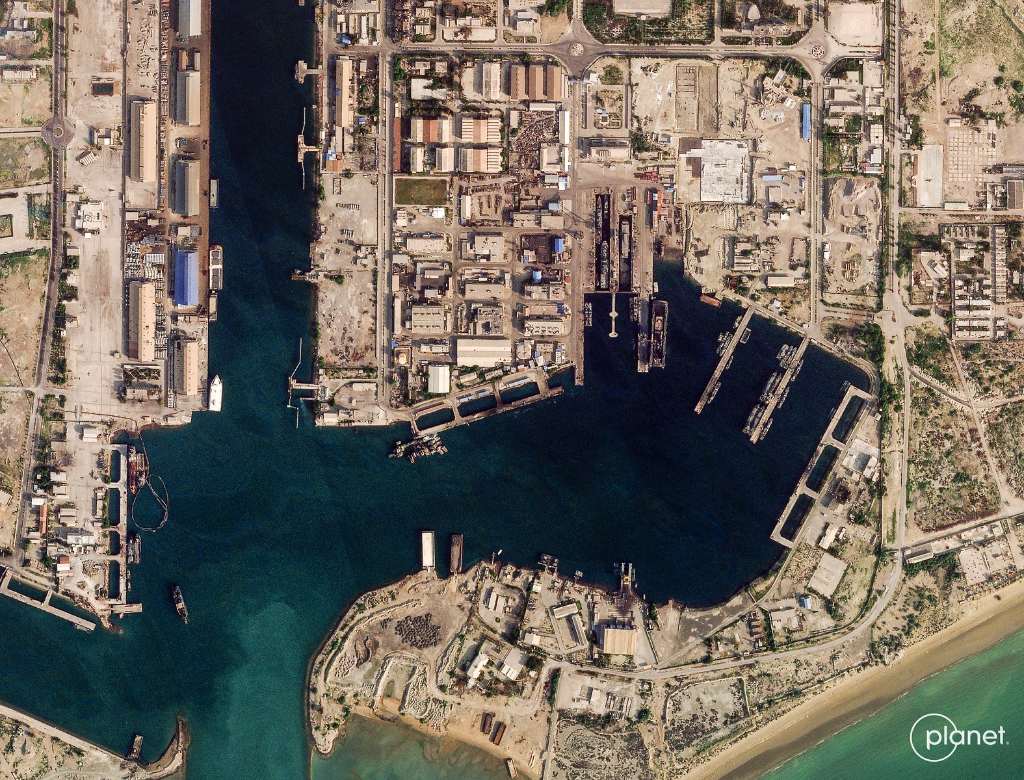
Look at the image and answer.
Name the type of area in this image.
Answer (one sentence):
This image shows a port.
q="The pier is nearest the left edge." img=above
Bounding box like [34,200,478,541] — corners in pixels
[0,567,95,631]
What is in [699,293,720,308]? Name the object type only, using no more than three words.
ship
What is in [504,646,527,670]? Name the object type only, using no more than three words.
building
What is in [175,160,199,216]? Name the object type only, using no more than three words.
shed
